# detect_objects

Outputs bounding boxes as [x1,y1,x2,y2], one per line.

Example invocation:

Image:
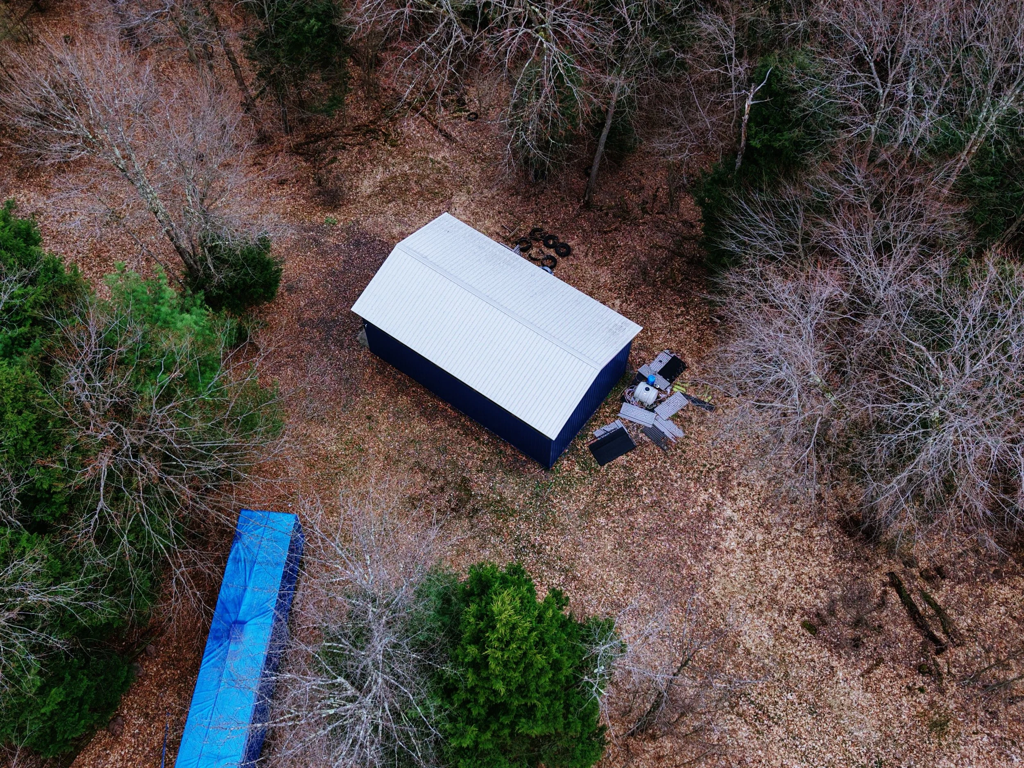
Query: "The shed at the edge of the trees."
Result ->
[350,210,644,470]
